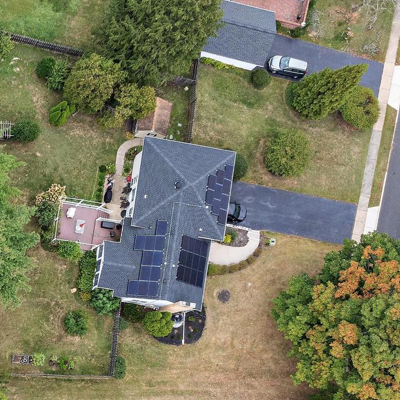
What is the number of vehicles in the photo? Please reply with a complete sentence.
The number of vehicles here is 2.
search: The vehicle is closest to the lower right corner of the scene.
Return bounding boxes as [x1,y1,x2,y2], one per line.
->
[228,203,252,225]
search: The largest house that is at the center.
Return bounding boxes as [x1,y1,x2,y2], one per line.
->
[91,136,237,345]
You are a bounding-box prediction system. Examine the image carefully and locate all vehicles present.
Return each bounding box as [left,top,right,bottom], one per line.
[265,53,313,80]
[228,203,252,225]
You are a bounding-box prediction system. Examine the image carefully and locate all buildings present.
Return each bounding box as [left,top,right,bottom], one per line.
[91,136,237,345]
[206,0,278,69]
